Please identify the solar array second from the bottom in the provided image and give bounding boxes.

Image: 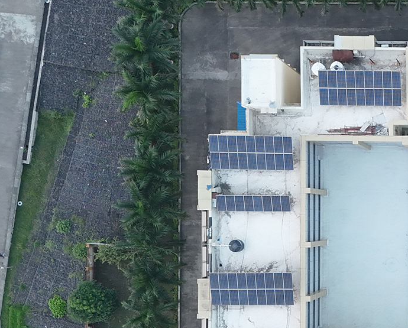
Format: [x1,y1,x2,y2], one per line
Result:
[216,196,289,213]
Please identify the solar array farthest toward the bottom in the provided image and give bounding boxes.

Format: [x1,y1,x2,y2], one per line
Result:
[210,273,293,308]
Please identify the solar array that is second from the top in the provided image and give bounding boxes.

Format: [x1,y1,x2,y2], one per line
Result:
[208,135,293,171]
